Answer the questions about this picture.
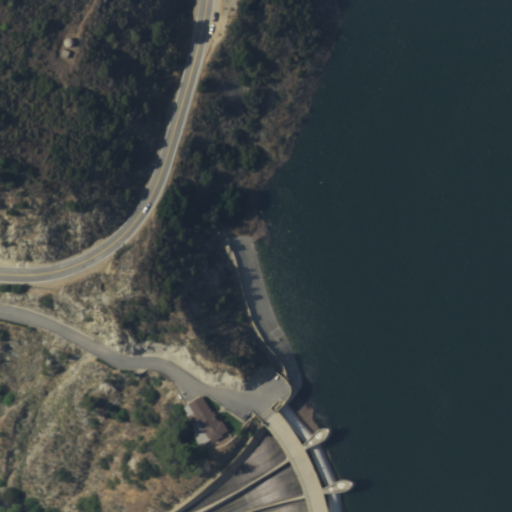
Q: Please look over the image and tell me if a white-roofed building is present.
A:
No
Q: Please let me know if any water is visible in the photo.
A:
Yes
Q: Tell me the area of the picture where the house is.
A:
bottom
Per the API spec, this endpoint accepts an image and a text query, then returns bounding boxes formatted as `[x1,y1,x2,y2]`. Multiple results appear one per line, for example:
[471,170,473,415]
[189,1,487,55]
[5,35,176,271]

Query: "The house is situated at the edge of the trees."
[186,396,230,442]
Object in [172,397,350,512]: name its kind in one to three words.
dam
